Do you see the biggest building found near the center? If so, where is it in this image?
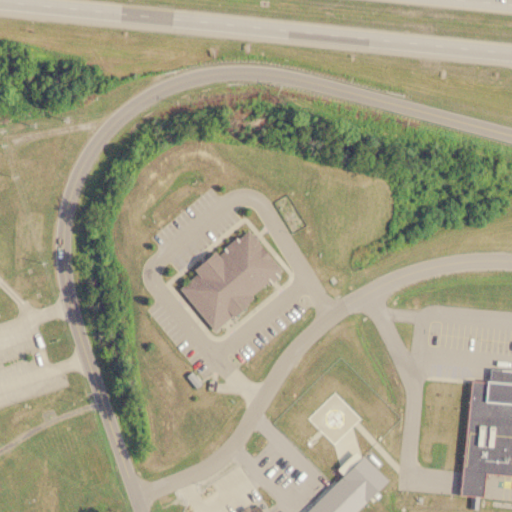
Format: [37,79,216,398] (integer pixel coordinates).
[180,232,283,328]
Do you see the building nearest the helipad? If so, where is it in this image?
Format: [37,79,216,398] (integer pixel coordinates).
[308,458,390,512]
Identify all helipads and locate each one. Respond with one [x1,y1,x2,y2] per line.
[309,392,362,445]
